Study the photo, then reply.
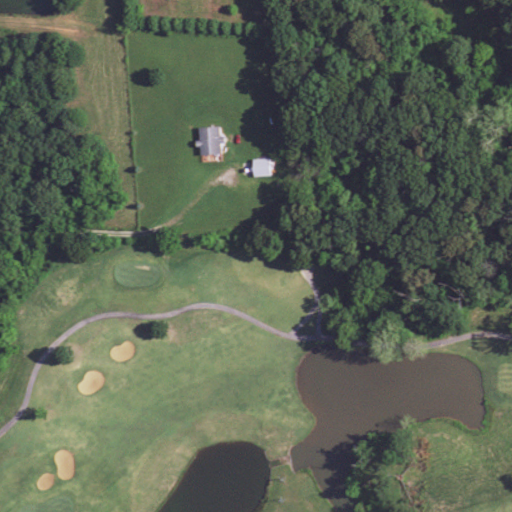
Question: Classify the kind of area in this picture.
golf course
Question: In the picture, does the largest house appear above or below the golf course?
above it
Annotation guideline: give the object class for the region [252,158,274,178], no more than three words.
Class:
building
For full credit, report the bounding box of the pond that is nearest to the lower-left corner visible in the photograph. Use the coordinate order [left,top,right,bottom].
[160,441,272,512]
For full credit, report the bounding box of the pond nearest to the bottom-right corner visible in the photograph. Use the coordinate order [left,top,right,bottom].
[291,348,485,512]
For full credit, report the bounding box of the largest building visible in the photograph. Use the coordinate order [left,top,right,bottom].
[195,126,227,162]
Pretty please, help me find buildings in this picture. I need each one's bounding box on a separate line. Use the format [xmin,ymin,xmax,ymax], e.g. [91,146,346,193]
[195,126,227,162]
[252,158,274,178]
